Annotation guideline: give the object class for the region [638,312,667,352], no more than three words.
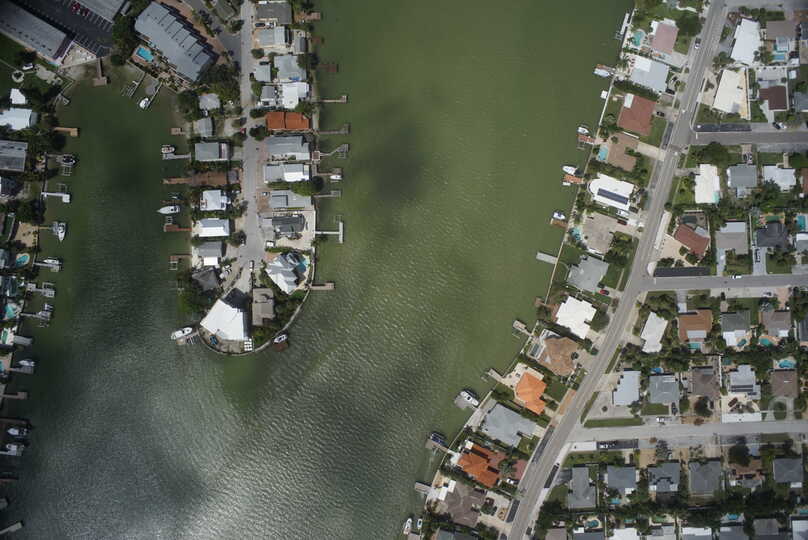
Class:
house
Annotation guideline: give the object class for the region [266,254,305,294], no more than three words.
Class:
house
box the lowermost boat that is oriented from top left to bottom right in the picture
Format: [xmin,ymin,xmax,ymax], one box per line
[428,431,446,444]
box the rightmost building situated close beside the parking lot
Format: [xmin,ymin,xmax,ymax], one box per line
[135,2,213,87]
